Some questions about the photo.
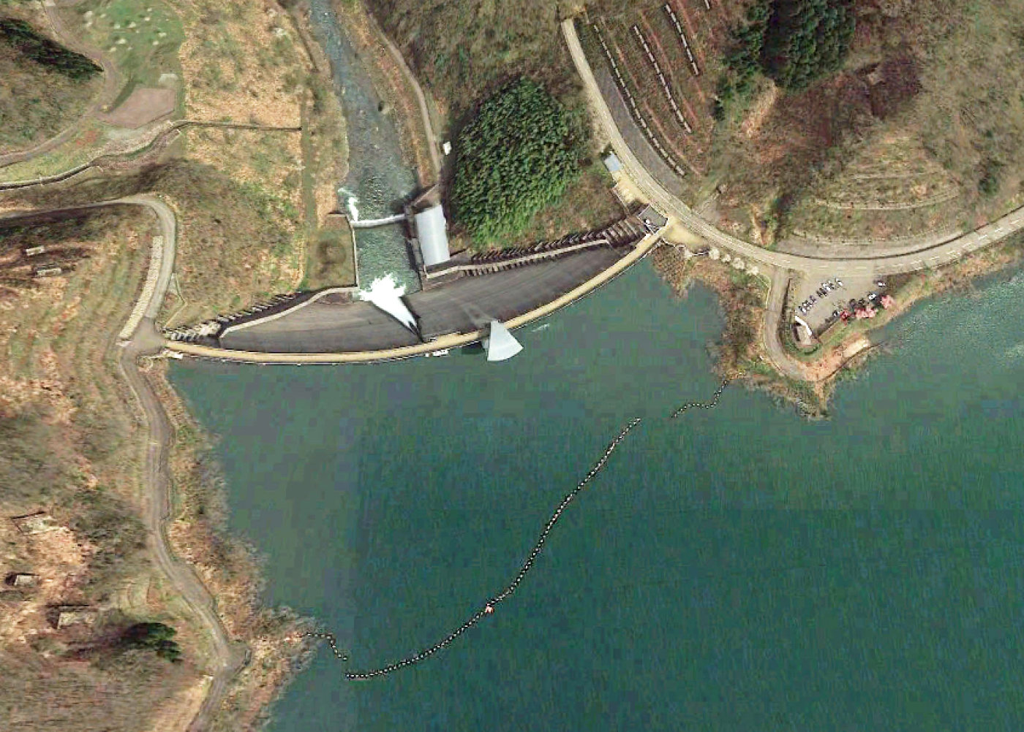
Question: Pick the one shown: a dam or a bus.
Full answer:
Looking from above, you can make out a dam.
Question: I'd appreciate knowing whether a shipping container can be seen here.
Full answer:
No, there is no shipping container in the image.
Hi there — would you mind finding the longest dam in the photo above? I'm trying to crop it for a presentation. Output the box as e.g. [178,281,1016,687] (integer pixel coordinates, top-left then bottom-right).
[139,199,709,362]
